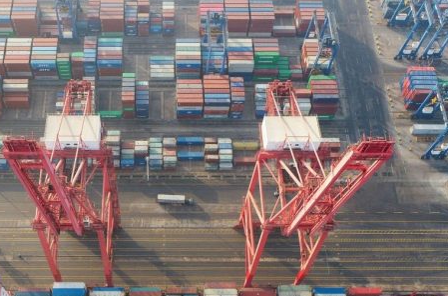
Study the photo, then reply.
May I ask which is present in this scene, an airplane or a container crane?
container crane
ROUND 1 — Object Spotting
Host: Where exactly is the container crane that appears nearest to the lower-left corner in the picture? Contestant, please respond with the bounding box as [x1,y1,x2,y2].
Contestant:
[0,76,129,291]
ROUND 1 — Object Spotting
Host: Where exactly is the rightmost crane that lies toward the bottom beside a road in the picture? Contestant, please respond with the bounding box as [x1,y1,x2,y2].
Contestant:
[225,76,410,291]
